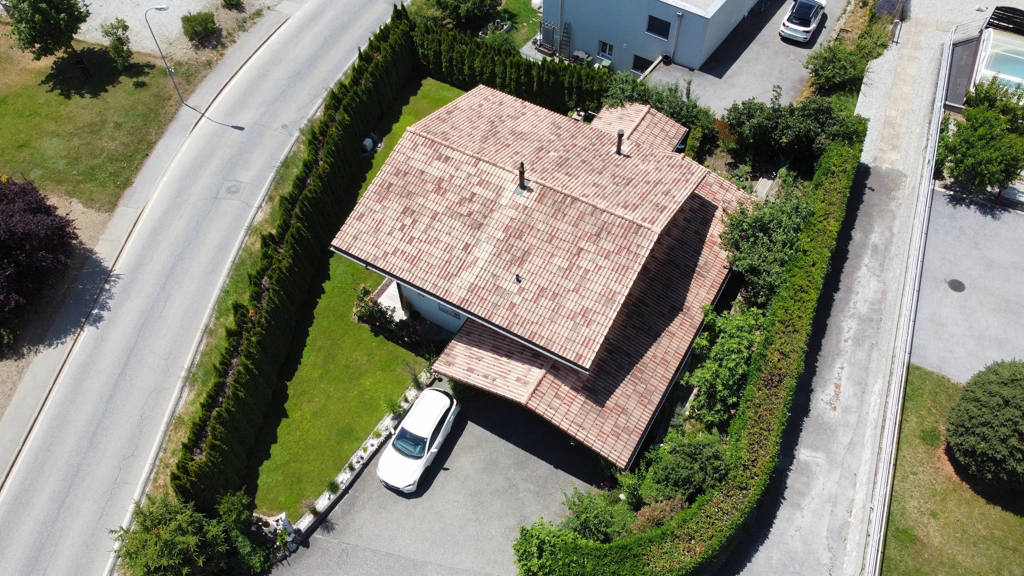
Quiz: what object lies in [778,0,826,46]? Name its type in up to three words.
car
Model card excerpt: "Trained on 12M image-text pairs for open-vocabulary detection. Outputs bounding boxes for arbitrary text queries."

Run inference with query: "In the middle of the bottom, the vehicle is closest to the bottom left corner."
[376,387,463,494]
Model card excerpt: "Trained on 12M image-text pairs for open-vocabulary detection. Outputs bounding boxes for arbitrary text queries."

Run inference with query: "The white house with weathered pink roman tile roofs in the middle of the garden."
[329,84,763,472]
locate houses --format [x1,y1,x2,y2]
[329,84,763,472]
[543,0,754,79]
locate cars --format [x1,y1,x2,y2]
[778,0,826,46]
[376,387,463,494]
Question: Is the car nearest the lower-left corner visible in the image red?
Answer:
No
